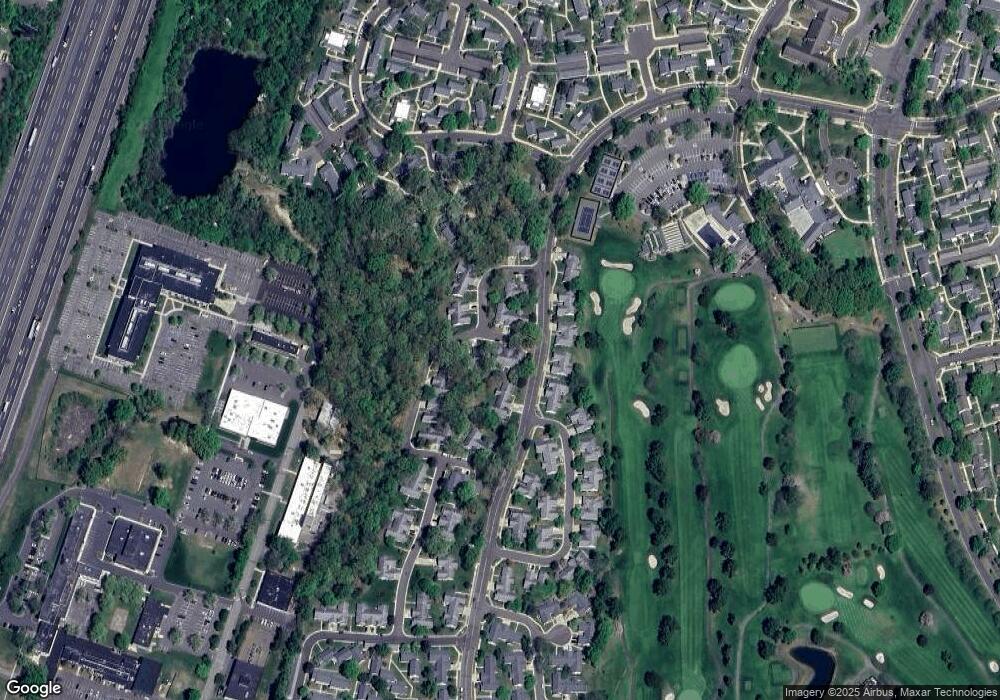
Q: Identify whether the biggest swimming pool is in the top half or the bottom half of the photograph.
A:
top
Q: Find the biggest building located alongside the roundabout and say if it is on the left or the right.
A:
right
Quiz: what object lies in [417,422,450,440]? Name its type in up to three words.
house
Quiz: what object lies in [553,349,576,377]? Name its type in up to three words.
house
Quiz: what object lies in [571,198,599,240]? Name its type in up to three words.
tennis court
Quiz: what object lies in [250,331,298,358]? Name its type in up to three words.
building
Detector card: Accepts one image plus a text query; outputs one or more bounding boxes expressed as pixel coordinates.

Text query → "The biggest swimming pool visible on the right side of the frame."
[686,208,741,251]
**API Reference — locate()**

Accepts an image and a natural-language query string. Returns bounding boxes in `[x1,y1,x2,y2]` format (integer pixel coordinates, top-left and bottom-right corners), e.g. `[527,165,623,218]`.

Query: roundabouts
[822,158,862,197]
